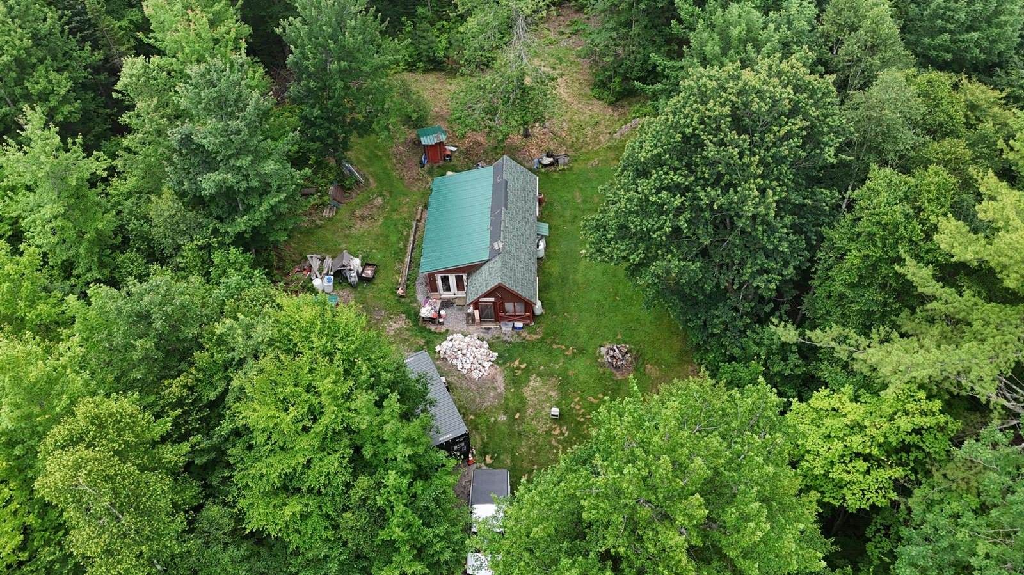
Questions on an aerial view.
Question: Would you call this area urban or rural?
rural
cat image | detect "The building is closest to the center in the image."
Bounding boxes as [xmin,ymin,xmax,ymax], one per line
[420,156,546,334]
